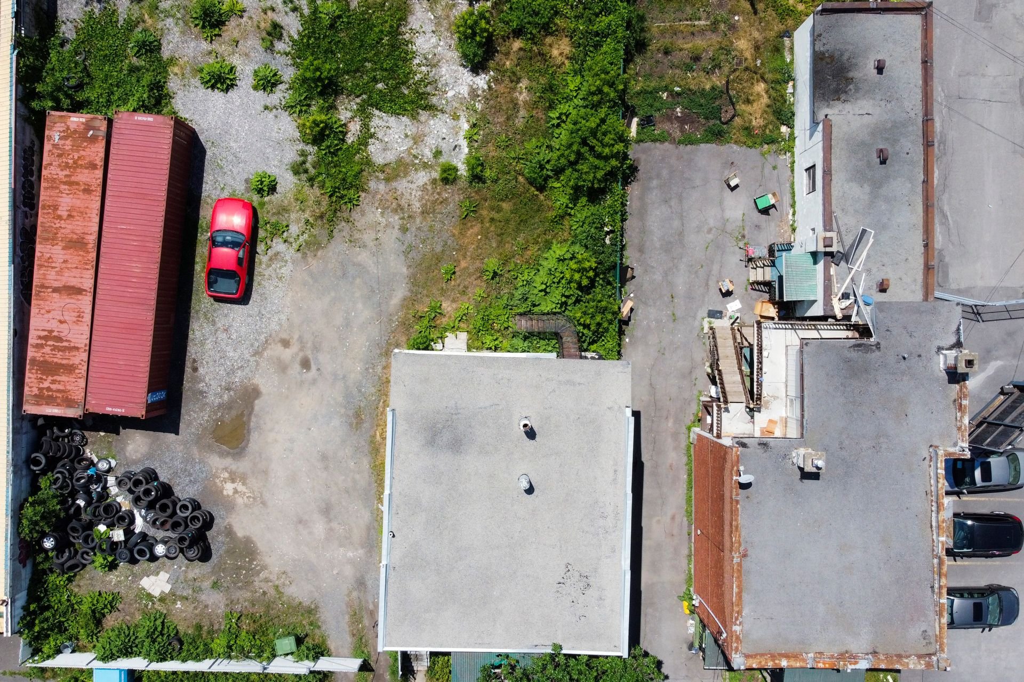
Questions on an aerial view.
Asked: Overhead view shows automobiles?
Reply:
Yes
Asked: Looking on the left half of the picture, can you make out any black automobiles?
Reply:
No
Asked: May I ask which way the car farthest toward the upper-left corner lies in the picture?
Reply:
vertically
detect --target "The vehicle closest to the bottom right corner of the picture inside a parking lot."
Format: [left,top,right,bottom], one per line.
[946,583,1019,635]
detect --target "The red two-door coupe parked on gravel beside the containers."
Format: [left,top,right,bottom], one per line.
[204,199,257,302]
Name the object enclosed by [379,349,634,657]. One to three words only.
house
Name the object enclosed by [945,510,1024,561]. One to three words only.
car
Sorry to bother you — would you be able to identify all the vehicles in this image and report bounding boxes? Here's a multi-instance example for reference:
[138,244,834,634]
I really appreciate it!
[946,583,1019,635]
[204,199,257,302]
[942,450,1021,497]
[945,510,1024,561]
